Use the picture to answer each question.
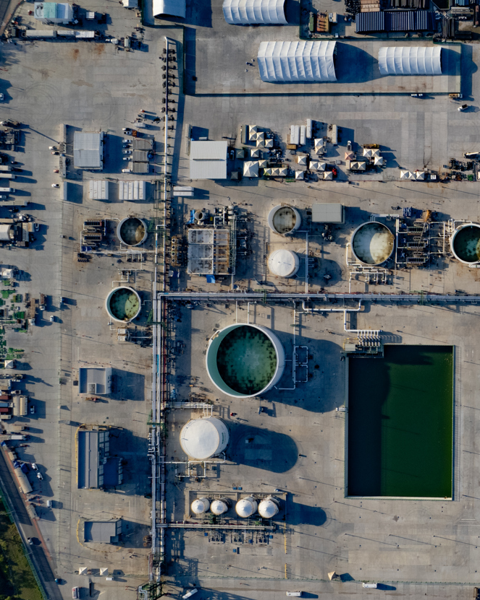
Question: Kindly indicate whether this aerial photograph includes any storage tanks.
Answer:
Yes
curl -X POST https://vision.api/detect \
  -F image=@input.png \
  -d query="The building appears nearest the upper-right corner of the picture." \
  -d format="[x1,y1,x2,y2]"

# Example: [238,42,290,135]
[376,46,440,75]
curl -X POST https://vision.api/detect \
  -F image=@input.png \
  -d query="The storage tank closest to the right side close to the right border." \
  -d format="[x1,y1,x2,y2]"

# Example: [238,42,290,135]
[451,223,480,264]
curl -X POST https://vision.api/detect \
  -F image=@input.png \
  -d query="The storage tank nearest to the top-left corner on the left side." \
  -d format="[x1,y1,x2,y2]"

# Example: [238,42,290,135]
[117,216,152,246]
